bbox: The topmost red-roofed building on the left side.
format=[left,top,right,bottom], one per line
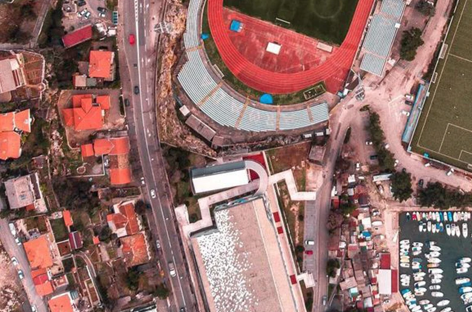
[63,26,96,45]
